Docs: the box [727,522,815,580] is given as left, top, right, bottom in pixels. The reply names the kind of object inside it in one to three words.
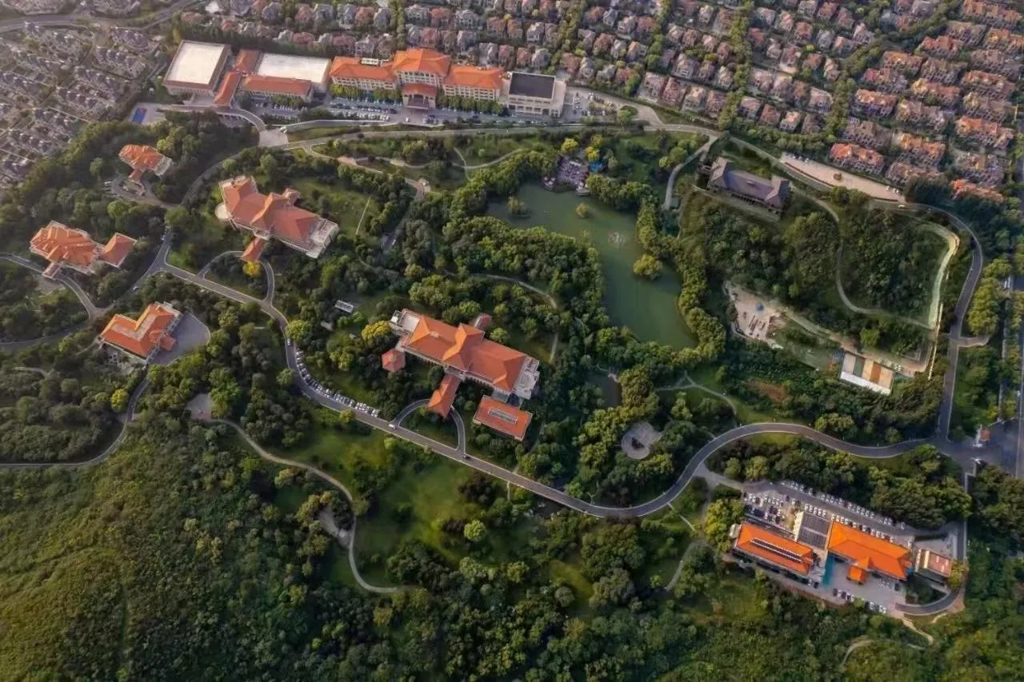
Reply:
building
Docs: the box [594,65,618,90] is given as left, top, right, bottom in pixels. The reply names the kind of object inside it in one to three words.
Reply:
house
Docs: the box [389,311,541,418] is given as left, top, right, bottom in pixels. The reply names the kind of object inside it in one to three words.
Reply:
house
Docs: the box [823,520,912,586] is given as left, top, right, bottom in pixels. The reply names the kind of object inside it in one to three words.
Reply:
building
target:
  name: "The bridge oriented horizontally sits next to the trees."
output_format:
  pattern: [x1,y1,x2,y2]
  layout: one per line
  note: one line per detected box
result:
[157,102,265,133]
